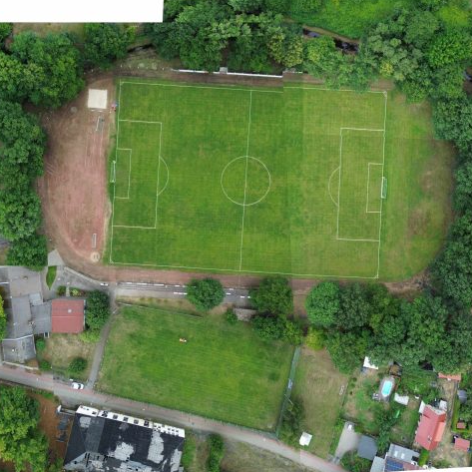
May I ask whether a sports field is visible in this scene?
Yes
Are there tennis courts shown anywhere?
No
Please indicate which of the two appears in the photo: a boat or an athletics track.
athletics track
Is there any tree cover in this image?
Yes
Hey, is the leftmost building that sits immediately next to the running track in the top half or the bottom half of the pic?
bottom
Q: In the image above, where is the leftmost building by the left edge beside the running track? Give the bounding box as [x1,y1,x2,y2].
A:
[0,266,85,365]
